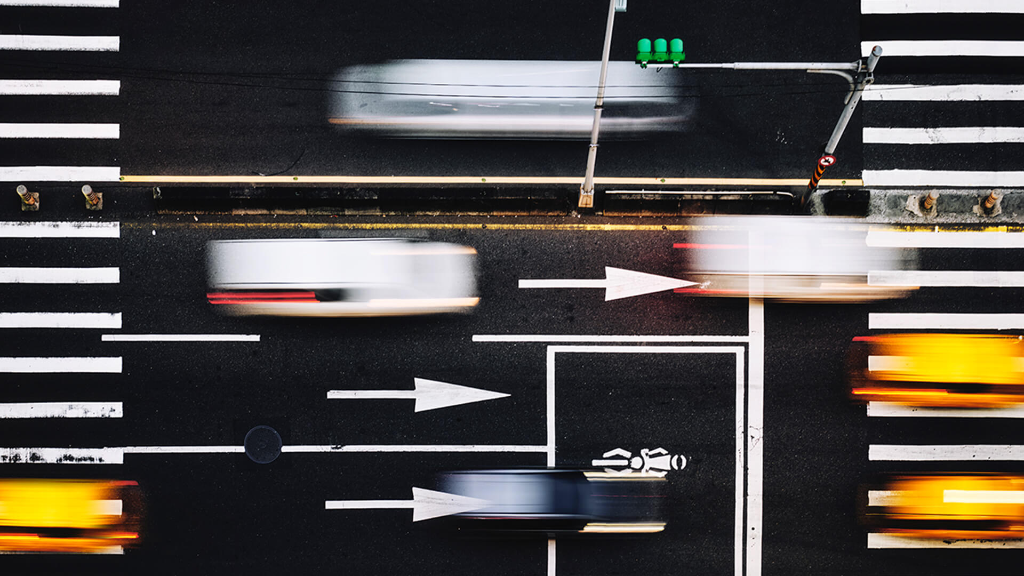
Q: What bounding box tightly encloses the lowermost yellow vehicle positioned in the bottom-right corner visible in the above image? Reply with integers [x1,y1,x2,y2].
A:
[908,467,1024,538]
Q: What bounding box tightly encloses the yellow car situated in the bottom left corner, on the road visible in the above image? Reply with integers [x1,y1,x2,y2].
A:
[0,481,103,552]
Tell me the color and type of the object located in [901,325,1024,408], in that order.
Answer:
yellow car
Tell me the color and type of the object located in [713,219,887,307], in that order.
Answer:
white vehicle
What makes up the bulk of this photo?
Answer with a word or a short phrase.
paved ground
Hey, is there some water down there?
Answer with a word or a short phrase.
No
